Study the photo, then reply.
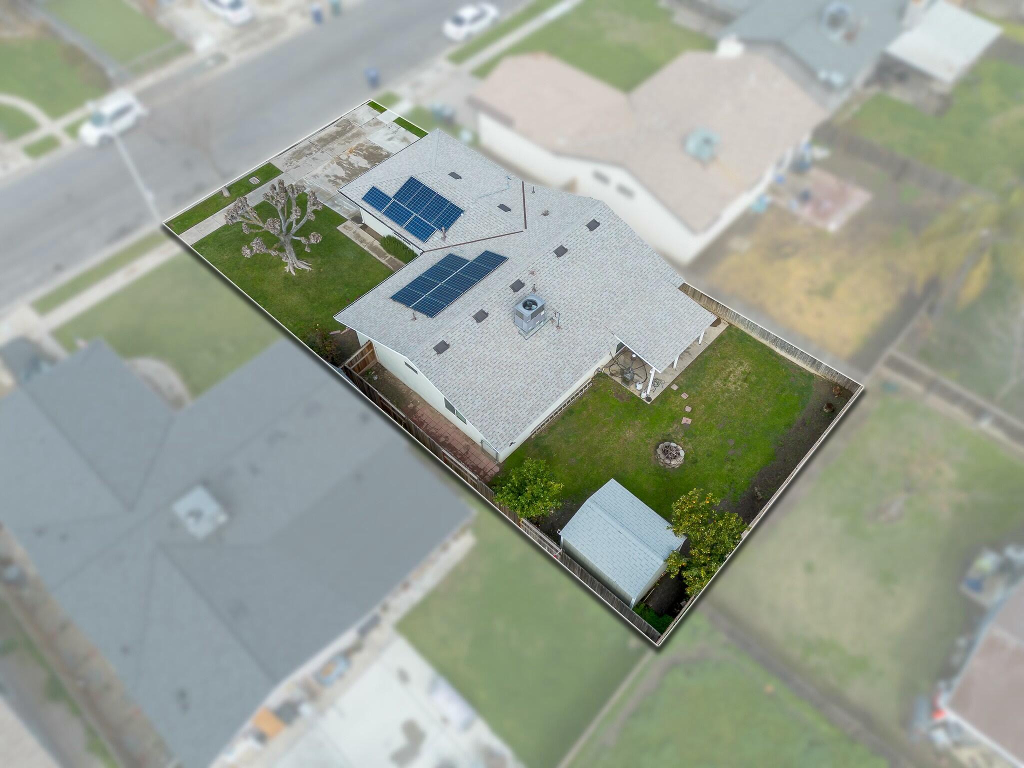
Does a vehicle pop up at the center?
No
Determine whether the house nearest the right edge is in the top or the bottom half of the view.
bottom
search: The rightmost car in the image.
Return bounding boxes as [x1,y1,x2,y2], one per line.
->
[442,6,499,45]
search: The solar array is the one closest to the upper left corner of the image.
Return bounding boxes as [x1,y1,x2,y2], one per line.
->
[361,176,464,243]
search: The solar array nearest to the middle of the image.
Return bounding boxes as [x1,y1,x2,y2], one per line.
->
[390,250,507,317]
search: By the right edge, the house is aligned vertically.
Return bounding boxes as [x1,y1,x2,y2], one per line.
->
[932,557,1024,768]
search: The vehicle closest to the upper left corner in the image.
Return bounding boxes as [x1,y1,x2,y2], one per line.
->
[75,93,157,151]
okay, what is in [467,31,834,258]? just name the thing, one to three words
house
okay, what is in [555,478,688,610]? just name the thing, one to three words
shed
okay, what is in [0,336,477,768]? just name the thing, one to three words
house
